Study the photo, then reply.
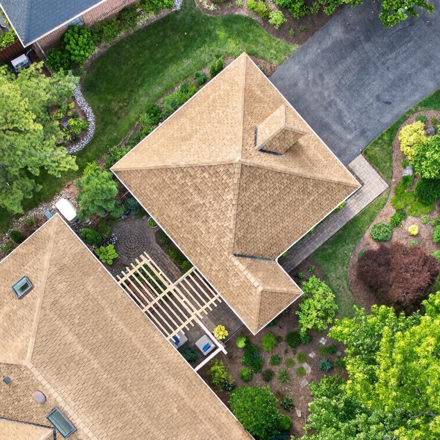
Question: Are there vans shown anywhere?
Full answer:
No, no van can be seen from above.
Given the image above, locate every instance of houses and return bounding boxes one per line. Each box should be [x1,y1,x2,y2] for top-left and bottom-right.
[0,0,125,53]
[0,212,256,440]
[110,50,363,336]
